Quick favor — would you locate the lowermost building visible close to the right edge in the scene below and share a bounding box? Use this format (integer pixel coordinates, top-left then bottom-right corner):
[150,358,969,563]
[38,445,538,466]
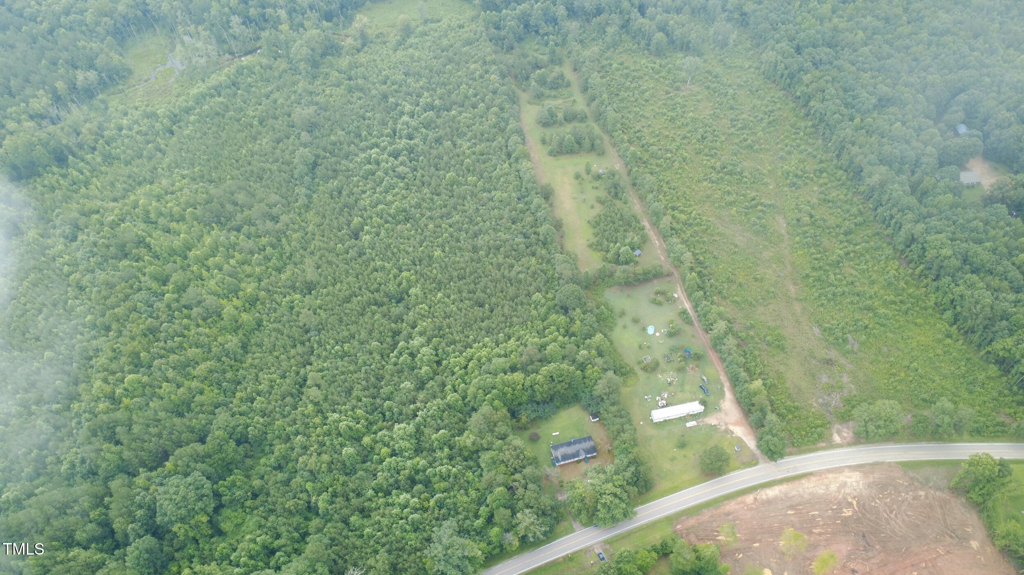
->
[959,167,985,186]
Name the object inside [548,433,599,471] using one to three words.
house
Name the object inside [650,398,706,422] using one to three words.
house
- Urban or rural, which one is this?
rural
